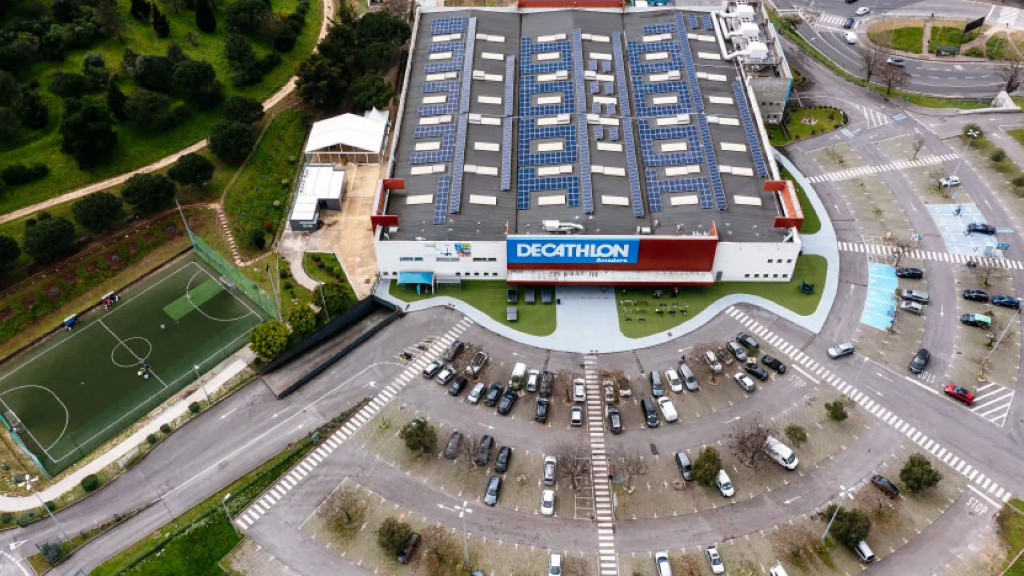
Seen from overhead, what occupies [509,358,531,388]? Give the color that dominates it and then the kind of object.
white vehicle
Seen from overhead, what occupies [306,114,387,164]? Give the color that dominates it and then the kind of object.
white tent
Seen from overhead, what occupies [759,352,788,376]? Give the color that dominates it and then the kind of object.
black car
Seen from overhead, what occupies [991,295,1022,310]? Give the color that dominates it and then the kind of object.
blue car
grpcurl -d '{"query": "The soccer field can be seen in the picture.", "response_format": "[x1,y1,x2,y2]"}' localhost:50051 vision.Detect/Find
[0,253,279,477]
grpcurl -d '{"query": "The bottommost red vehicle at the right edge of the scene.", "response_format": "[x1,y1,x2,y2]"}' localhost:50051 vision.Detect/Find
[942,383,977,406]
